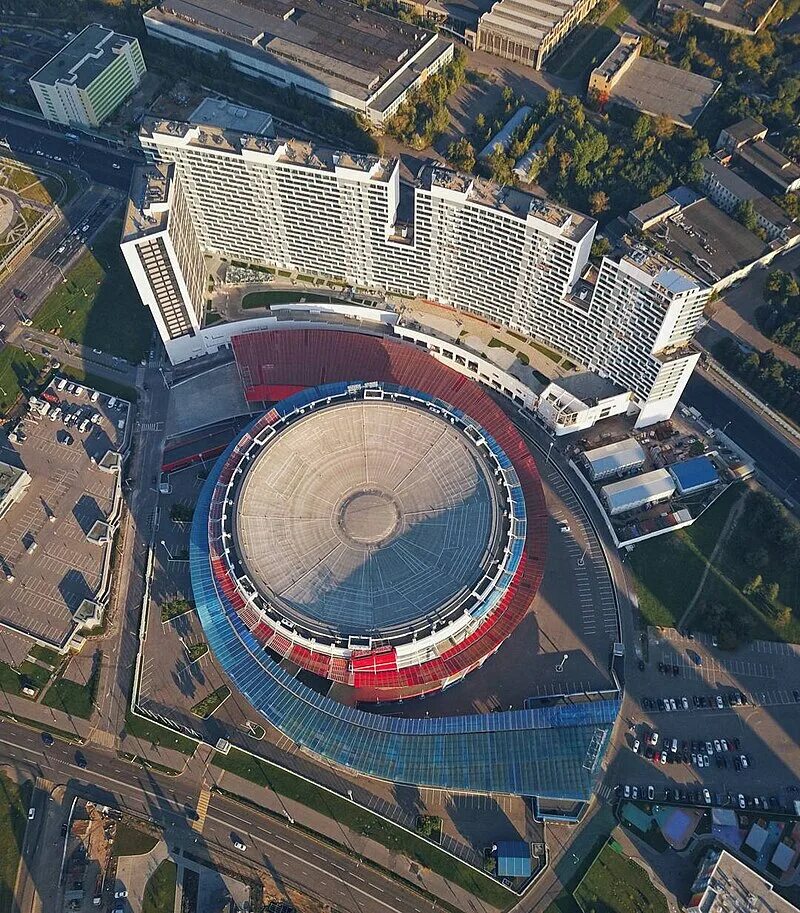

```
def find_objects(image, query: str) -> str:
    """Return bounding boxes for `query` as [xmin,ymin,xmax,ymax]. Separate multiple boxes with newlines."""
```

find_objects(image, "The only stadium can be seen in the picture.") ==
[190,328,612,793]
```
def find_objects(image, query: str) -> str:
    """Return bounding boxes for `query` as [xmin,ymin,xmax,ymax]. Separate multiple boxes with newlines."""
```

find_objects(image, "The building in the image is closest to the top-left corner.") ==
[29,22,147,138]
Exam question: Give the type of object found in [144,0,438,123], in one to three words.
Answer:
warehouse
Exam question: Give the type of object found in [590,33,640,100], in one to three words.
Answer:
building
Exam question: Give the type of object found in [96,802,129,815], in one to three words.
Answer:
vehicle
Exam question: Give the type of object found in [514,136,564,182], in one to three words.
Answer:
hangar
